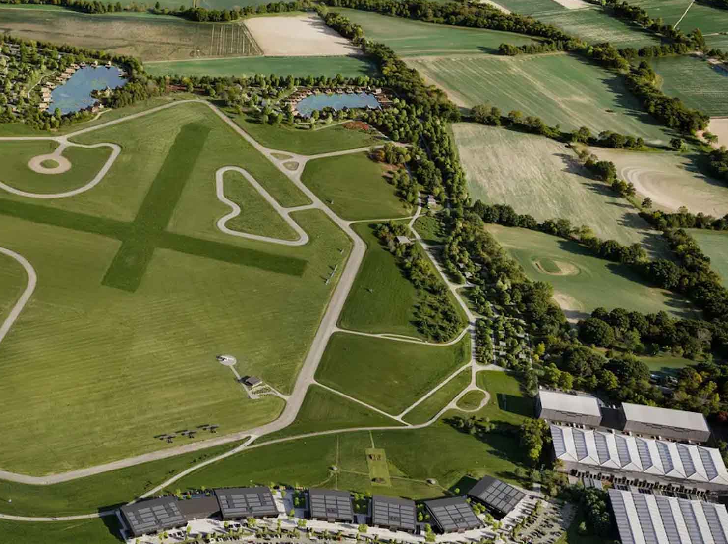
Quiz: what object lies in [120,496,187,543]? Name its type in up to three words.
shed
